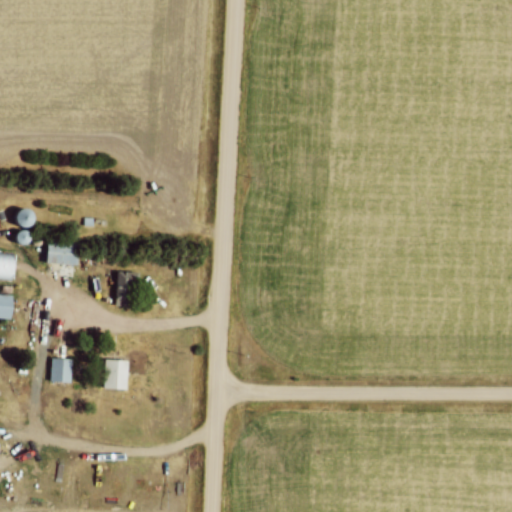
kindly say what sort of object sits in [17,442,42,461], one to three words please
work vehicle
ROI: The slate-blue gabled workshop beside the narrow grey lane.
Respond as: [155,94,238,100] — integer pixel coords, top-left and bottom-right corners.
[52,359,72,384]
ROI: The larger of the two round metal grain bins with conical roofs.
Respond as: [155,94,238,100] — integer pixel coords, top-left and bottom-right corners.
[16,208,36,228]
